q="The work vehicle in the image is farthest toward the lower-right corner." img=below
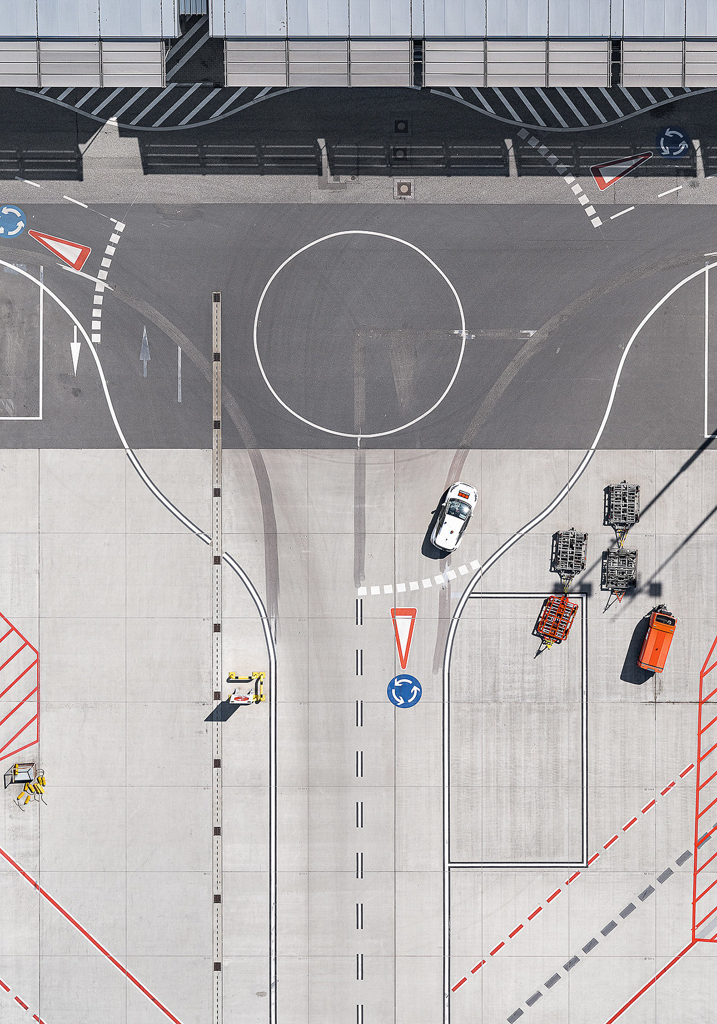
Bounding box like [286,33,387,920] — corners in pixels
[639,605,679,672]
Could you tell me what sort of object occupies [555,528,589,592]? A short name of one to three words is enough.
trailer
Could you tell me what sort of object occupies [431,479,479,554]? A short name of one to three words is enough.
car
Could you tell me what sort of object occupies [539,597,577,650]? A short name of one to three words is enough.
trailer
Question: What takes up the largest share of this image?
paved ground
